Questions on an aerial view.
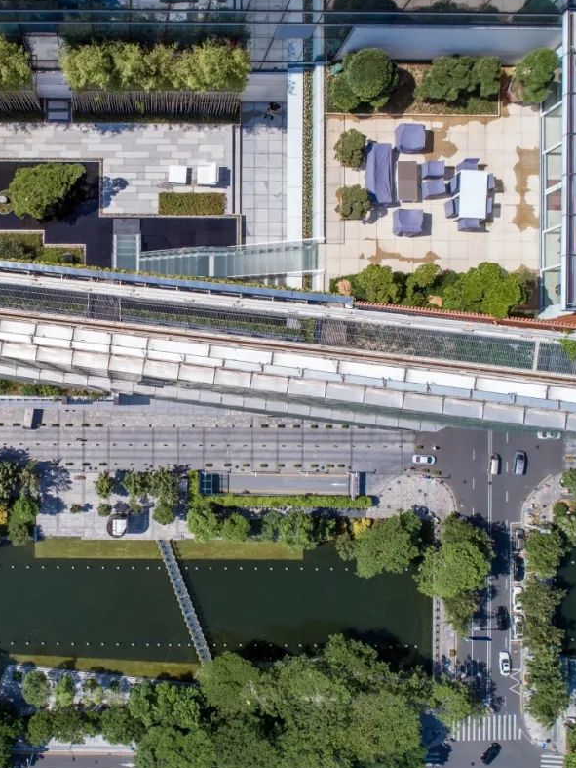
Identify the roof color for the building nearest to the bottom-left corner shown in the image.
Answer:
white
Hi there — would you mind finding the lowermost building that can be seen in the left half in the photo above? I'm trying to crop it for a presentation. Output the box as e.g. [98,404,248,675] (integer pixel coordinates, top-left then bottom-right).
[106,511,129,538]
